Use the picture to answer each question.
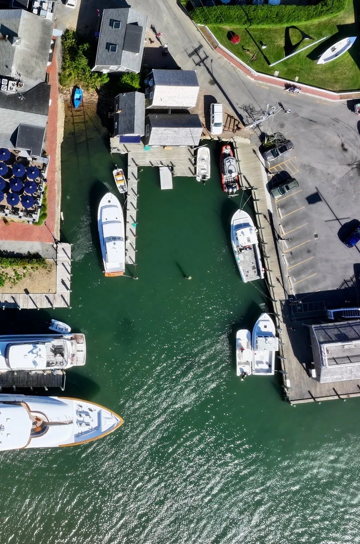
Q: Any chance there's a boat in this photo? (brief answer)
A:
Yes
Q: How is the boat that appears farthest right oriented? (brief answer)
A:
on a diagonal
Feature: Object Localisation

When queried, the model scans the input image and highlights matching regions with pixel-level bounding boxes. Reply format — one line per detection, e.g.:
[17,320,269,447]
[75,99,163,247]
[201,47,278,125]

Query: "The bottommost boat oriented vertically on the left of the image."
[96,192,126,278]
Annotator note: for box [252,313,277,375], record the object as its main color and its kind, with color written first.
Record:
white boat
